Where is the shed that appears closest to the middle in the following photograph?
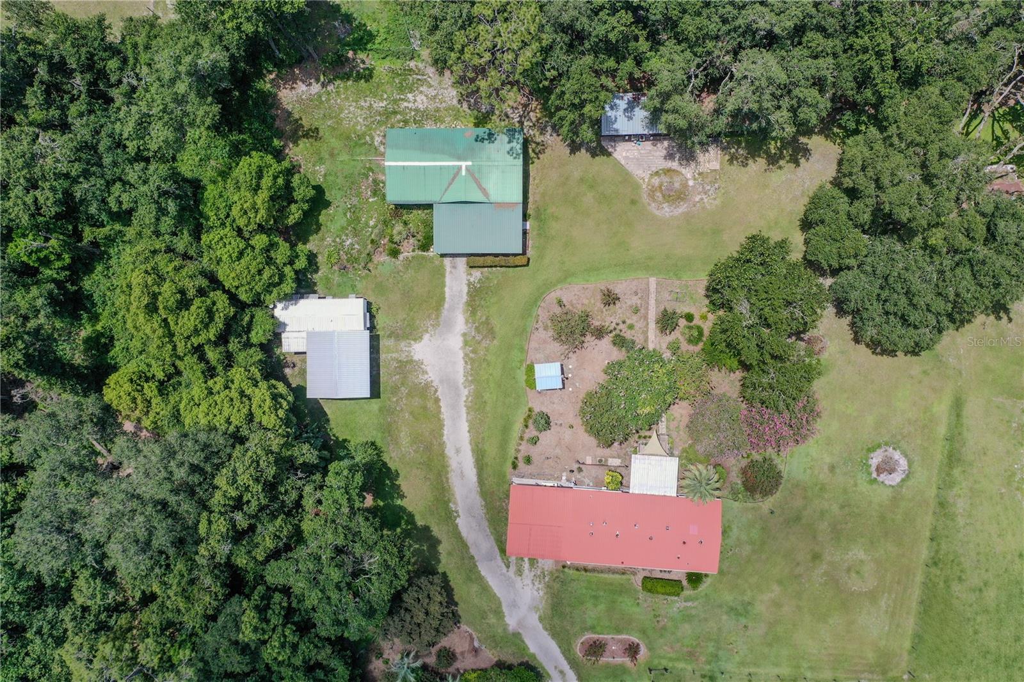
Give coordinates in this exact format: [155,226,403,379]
[534,362,563,390]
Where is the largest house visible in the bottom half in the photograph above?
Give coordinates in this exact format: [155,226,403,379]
[507,482,722,575]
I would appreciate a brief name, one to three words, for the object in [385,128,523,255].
barn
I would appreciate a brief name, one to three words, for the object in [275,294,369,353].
shed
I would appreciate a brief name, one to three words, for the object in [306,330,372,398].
building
